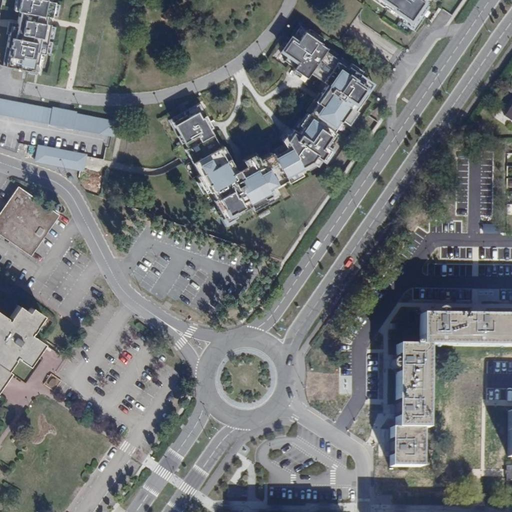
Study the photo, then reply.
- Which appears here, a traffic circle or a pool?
traffic circle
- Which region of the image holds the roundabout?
bottom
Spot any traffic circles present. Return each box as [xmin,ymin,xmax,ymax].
[193,325,300,432]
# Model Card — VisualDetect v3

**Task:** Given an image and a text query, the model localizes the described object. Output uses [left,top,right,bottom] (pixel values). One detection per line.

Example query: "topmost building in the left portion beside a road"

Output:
[6,0,60,78]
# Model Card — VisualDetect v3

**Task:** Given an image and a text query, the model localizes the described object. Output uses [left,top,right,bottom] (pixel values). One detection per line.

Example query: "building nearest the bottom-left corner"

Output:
[0,308,50,391]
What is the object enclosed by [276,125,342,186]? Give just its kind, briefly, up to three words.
building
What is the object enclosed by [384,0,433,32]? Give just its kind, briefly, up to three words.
house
